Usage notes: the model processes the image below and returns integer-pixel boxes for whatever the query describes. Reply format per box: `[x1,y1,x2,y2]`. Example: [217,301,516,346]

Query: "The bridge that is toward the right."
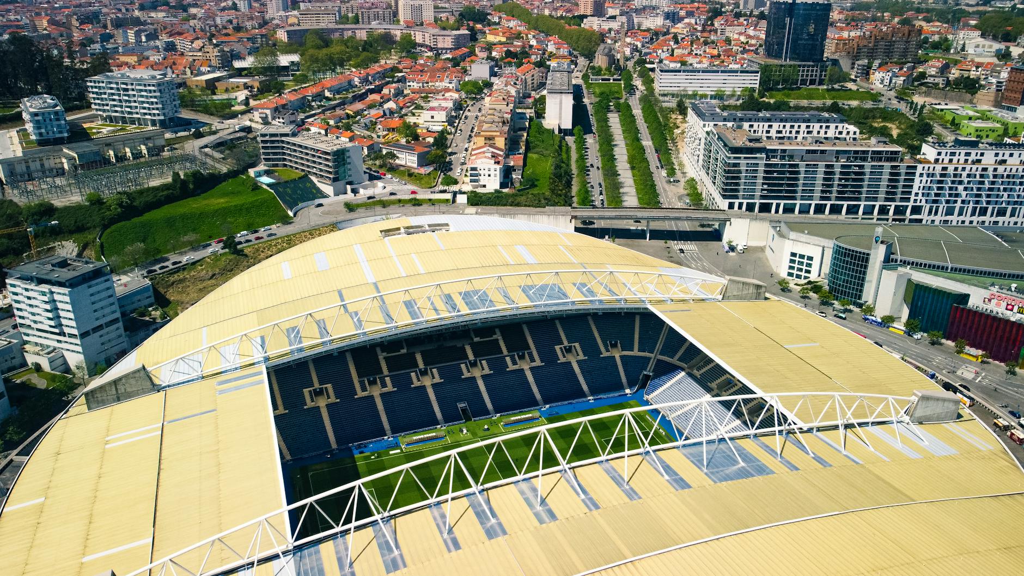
[572,207,729,239]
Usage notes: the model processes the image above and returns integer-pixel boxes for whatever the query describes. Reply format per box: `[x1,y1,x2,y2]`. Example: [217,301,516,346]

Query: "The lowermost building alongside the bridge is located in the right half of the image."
[766,215,1024,374]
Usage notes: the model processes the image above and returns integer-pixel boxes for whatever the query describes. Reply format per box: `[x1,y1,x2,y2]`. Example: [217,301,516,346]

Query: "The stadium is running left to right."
[0,213,1024,576]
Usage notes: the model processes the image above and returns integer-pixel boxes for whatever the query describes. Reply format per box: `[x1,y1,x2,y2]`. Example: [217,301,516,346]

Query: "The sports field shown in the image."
[288,400,674,534]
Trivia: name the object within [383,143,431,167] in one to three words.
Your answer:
building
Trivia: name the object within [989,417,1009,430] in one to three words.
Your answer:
vehicle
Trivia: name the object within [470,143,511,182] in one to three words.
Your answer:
house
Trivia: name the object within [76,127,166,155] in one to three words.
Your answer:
building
